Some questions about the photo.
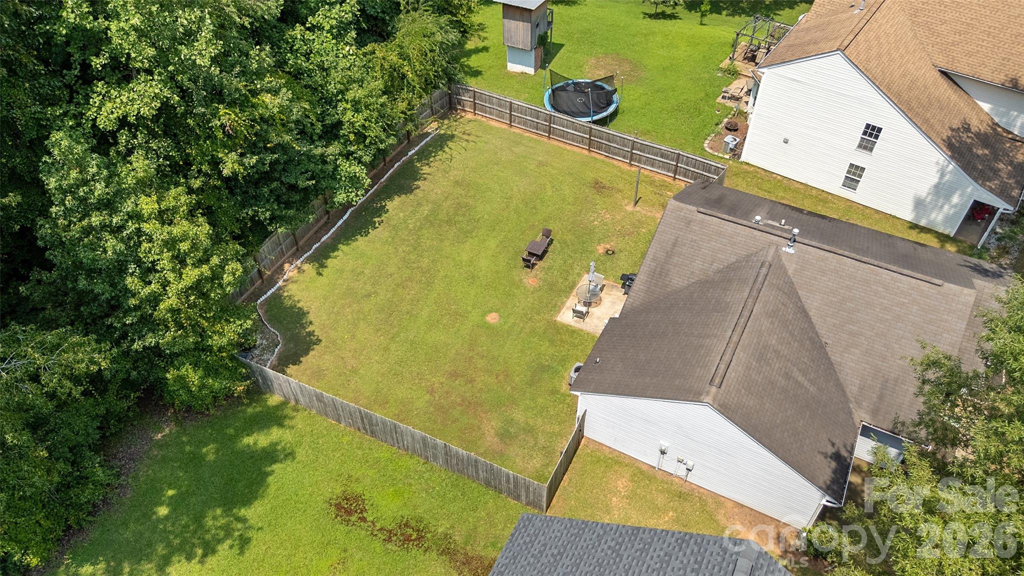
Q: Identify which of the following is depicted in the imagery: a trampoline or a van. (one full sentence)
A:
This aerial view contains a trampoline.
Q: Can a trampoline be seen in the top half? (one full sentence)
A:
Yes, I can see a trampoline in the top half.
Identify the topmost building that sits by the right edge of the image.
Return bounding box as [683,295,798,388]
[741,0,1024,250]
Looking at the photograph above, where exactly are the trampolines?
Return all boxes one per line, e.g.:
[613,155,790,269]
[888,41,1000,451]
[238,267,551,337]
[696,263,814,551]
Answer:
[541,66,628,129]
